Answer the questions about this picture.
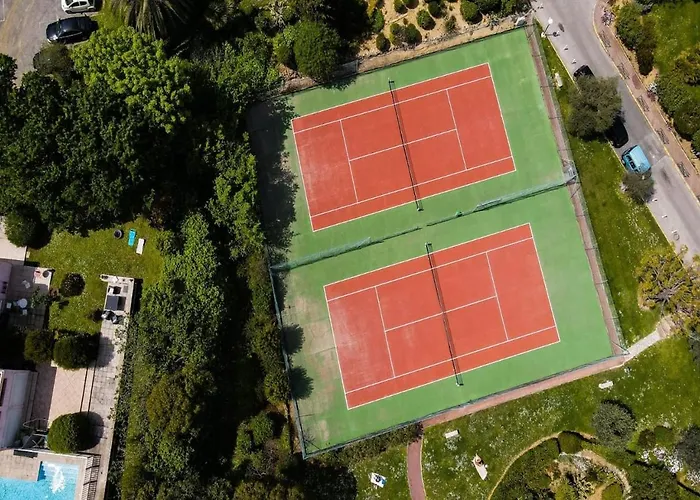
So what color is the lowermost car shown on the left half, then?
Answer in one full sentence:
The color of the lowermost car shown on the left half is black.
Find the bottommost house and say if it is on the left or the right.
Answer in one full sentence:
You can find the bottommost house on the left side of the picture.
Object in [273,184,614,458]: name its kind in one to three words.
tennis court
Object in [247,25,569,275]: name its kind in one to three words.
tennis court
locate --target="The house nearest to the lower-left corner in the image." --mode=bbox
[0,366,42,460]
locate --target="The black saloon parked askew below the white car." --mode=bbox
[49,17,95,42]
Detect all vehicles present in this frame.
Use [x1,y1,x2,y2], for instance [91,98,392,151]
[596,114,630,149]
[617,146,651,179]
[569,62,600,92]
[49,17,95,42]
[60,0,96,16]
